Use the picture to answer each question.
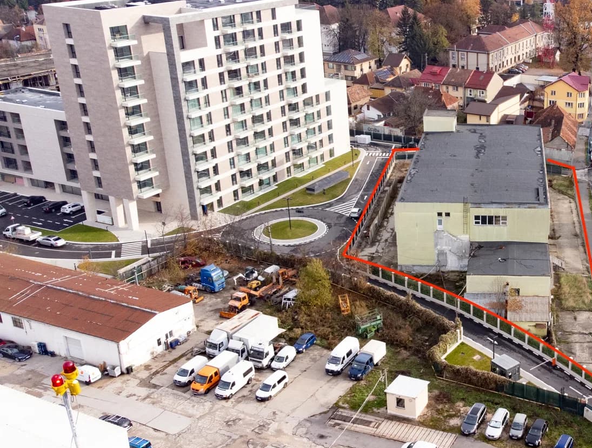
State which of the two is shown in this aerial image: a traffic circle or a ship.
traffic circle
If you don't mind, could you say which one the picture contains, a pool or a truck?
truck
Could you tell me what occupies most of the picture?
buildings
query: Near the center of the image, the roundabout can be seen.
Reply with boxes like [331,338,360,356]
[200,201,373,266]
